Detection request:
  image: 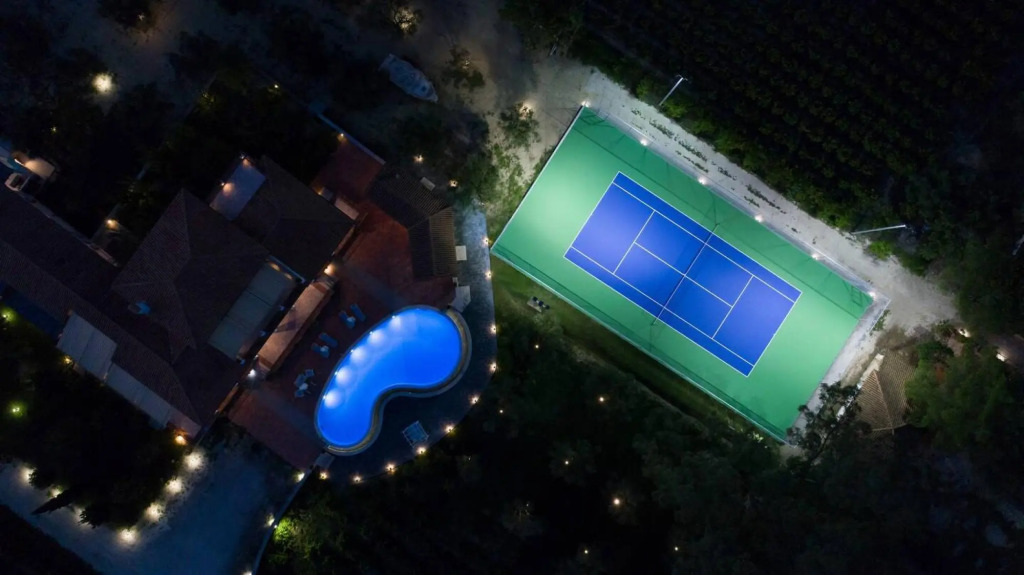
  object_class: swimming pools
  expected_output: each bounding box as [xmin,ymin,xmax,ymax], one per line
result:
[315,305,471,457]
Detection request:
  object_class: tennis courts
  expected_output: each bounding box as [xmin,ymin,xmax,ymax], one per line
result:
[486,103,880,445]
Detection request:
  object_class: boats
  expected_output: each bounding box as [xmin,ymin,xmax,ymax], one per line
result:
[379,57,438,101]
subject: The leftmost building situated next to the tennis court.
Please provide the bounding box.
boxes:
[0,155,361,438]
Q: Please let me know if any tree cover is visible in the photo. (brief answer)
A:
Yes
